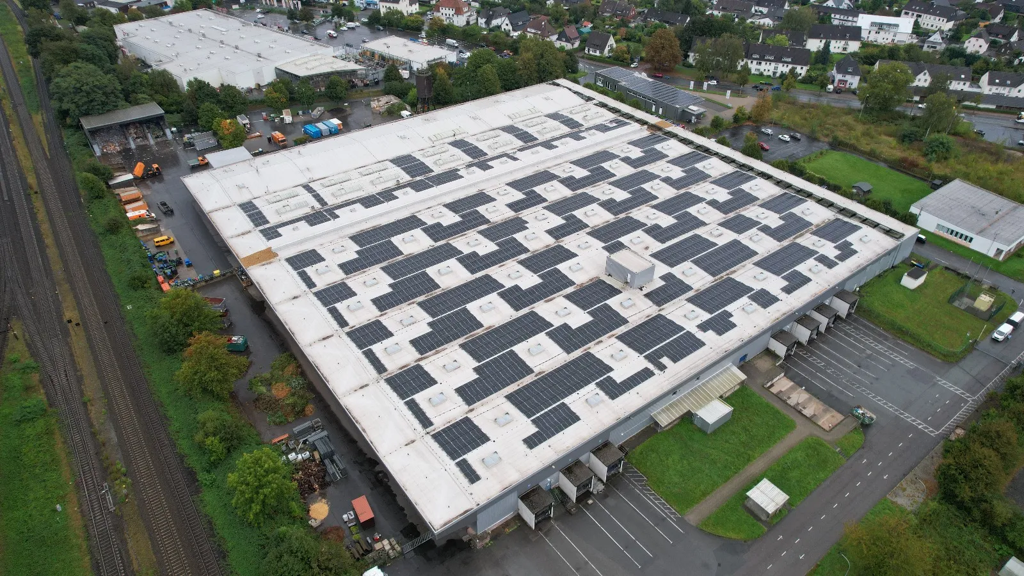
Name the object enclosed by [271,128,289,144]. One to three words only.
vehicle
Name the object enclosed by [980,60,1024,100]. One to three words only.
house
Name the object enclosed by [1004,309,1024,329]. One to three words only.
vehicle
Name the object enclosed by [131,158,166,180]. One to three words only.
truck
